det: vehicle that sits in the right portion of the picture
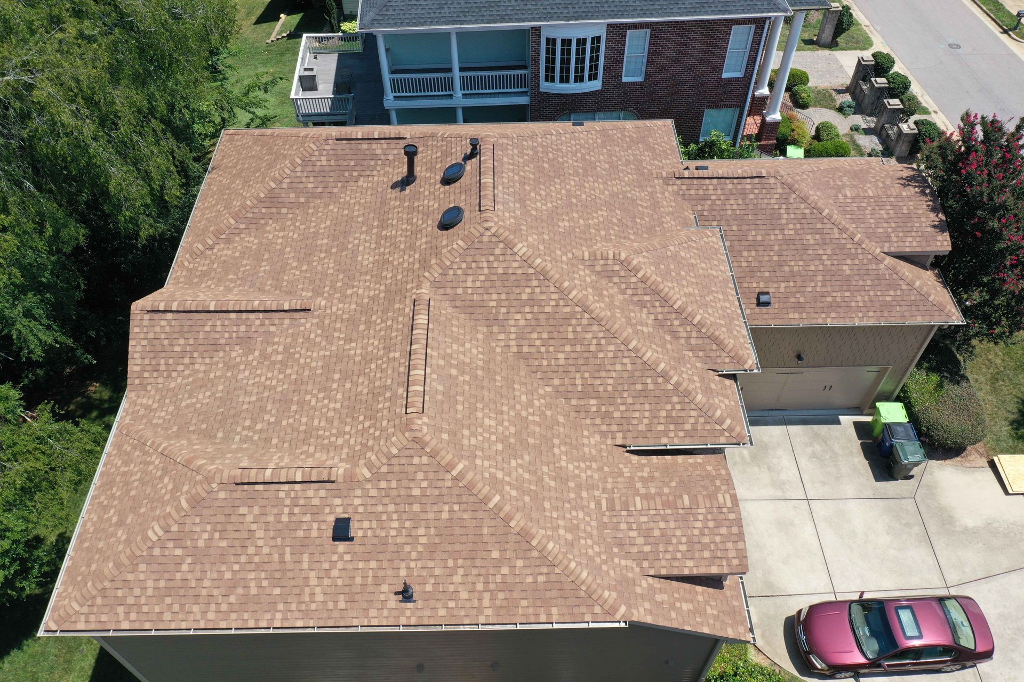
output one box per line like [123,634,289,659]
[795,588,999,681]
